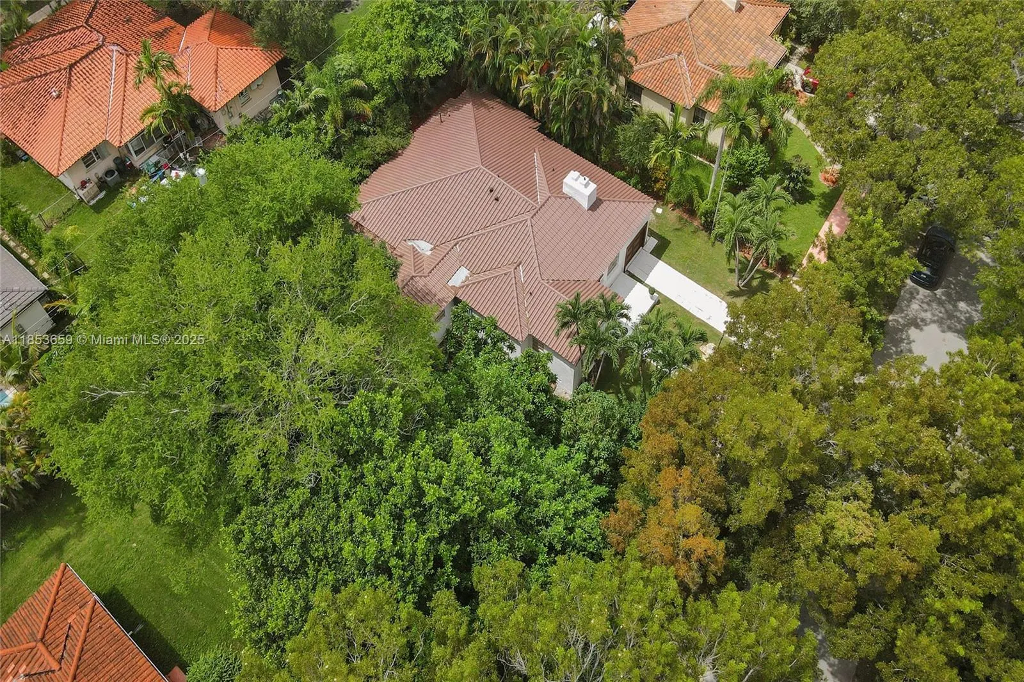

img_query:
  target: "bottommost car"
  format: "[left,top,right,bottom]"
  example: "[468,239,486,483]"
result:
[908,220,962,296]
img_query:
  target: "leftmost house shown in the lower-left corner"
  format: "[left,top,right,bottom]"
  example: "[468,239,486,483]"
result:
[0,561,169,682]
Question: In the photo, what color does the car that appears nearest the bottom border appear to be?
black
